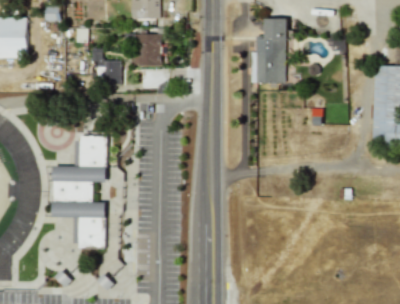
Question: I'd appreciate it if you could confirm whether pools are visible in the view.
Yes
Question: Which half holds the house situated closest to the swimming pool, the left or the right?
right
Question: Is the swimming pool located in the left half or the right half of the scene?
right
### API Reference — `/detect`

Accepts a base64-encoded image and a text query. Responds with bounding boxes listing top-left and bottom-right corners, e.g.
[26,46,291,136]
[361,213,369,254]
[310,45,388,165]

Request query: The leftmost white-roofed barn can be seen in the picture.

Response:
[0,16,27,58]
